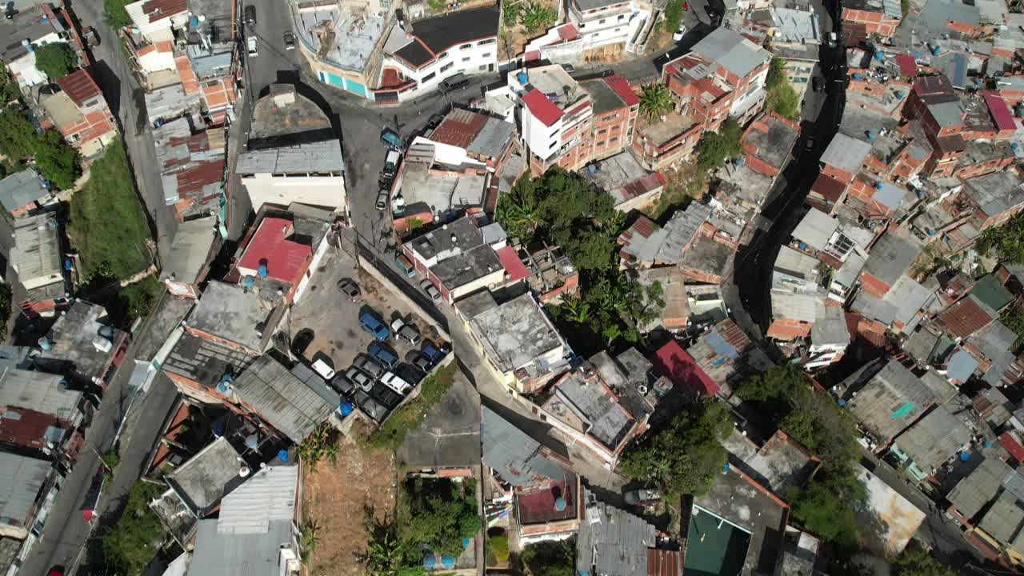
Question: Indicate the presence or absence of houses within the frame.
Yes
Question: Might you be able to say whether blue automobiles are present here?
Yes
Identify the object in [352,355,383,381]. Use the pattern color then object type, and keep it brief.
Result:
gray car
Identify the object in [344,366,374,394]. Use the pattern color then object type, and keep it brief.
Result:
gray car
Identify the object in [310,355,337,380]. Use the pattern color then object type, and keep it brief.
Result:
white car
